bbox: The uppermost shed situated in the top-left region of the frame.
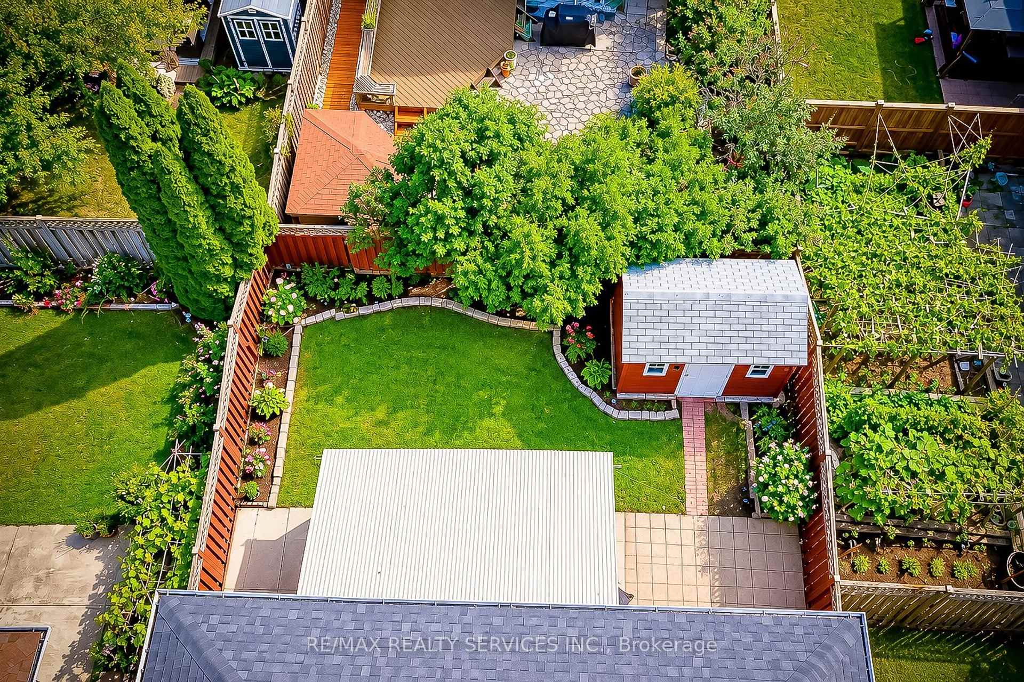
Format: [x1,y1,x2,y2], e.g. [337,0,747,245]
[214,0,302,71]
